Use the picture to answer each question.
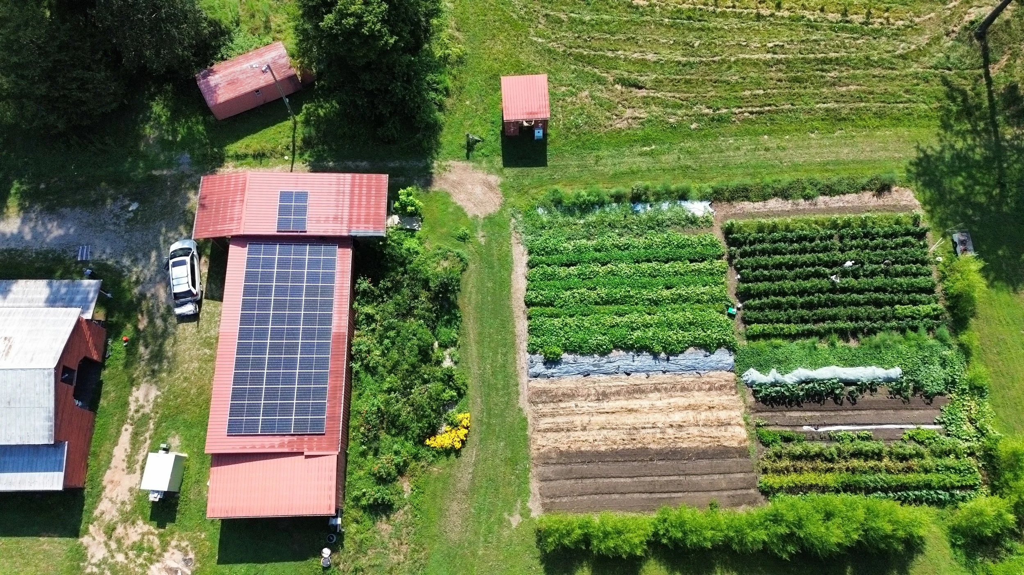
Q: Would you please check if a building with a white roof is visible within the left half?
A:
Yes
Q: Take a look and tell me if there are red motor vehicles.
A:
No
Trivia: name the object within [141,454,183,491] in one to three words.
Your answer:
building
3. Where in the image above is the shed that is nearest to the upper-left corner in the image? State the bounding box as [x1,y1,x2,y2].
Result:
[191,35,301,119]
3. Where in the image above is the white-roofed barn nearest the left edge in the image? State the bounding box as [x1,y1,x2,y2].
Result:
[0,282,118,491]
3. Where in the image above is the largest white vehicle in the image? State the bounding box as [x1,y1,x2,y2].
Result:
[158,240,204,307]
